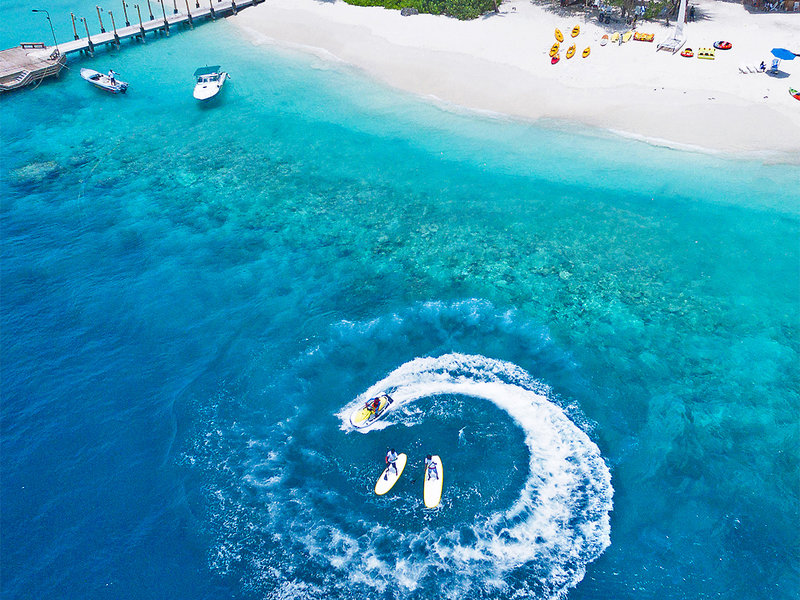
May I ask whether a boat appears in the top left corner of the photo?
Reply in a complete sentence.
Yes, there is a boat in the top left corner of the photo.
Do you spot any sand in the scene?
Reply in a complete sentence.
Yes, some sand is visible.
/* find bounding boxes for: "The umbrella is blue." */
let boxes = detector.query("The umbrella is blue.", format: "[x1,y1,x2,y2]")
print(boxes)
[769,46,798,71]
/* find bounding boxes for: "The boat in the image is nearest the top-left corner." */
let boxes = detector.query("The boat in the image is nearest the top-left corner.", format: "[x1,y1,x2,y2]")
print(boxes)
[80,67,131,98]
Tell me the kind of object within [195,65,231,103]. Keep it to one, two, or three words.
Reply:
boat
